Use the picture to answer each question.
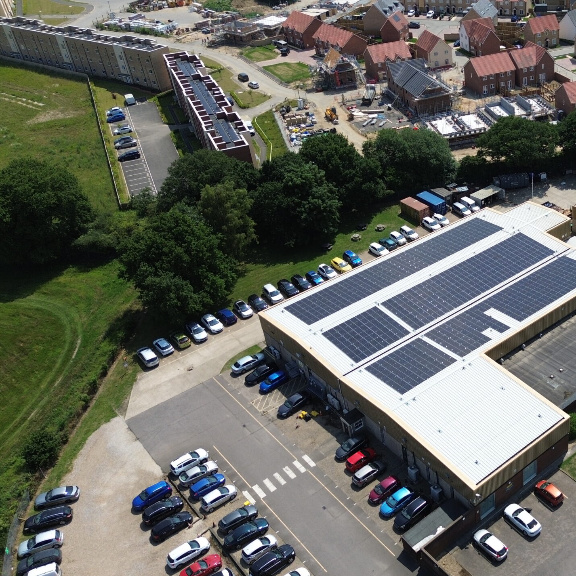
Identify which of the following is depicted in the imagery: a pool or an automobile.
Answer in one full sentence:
This aerial view contains an automobile.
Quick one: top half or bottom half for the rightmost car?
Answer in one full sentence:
The rightmost car sits in the bottom half of the picture.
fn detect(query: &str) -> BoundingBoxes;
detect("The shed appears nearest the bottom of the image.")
[400,497,475,566]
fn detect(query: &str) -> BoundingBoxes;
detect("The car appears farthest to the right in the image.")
[533,480,568,509]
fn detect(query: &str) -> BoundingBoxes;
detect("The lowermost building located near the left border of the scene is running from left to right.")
[0,16,171,87]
